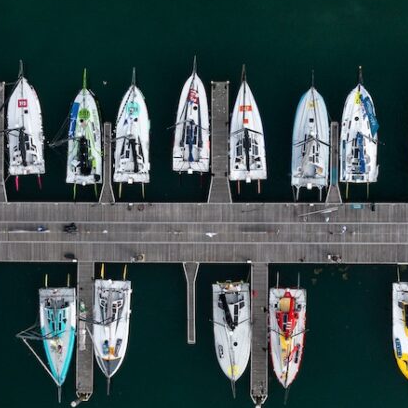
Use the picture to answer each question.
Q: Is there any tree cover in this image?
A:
No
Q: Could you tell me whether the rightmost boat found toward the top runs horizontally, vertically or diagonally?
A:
vertically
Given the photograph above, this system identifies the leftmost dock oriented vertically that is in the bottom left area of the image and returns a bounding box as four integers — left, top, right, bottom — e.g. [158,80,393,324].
[75,262,96,402]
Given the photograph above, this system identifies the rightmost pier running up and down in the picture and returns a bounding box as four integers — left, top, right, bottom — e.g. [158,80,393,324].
[326,122,342,202]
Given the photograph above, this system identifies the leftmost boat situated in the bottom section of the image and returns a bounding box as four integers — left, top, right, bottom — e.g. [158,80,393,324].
[15,274,76,403]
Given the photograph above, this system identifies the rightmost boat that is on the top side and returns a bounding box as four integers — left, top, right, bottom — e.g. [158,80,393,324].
[338,66,384,197]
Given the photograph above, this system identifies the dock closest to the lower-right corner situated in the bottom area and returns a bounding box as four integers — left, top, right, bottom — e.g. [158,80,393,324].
[249,262,270,405]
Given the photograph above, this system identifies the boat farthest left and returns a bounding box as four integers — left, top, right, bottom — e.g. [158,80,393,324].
[0,60,45,193]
